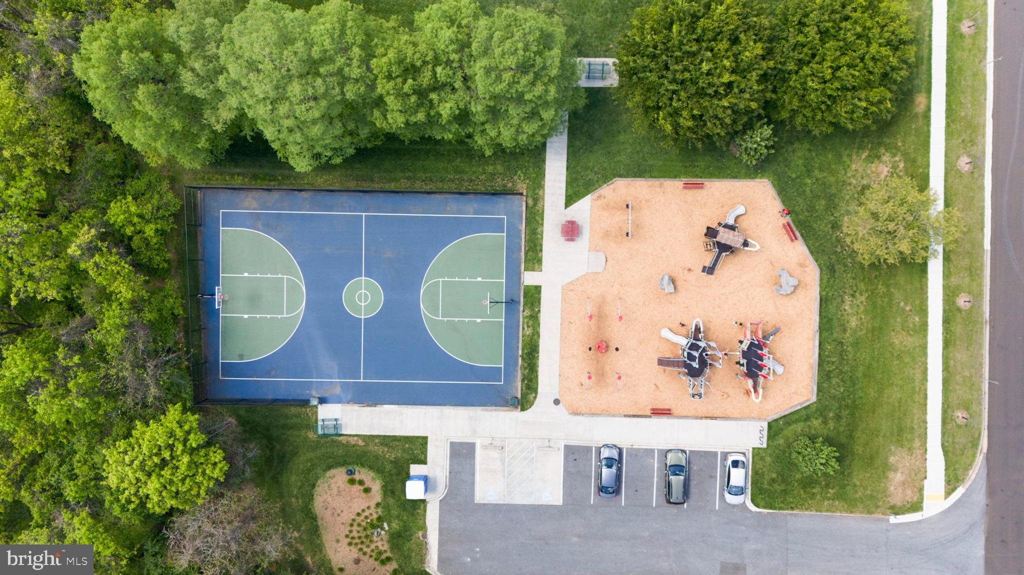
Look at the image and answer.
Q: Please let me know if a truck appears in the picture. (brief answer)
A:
No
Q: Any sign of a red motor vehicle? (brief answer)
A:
No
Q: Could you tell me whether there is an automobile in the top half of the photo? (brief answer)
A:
No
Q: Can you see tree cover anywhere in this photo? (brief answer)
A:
Yes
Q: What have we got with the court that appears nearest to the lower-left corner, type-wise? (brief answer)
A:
basketball court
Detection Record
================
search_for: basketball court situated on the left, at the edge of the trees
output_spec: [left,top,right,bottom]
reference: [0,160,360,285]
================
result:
[197,189,526,413]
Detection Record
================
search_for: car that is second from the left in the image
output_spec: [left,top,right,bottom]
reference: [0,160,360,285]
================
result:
[664,448,690,505]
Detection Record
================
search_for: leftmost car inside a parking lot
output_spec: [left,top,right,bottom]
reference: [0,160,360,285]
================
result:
[597,444,622,498]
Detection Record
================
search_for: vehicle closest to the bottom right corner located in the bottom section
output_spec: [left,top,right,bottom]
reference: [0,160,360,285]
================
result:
[722,452,749,504]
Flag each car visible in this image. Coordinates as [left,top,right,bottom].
[597,444,622,498]
[664,448,690,505]
[722,452,749,504]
